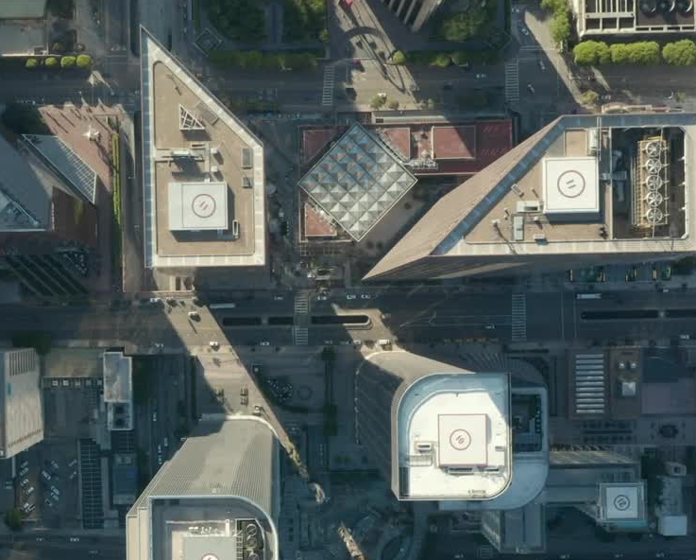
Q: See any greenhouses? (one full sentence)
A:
Yes, the frame does contain a greenhouse.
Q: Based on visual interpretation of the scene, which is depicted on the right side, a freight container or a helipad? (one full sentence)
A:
Looking on the right side, you will find a helipad.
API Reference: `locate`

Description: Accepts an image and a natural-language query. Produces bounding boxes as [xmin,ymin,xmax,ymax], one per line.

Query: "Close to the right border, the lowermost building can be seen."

[649,510,687,535]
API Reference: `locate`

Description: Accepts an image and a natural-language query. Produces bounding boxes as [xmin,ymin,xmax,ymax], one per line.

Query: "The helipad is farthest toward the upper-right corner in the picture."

[541,157,599,213]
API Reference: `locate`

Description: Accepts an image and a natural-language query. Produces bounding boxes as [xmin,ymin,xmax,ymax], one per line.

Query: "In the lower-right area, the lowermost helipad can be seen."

[606,487,638,519]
